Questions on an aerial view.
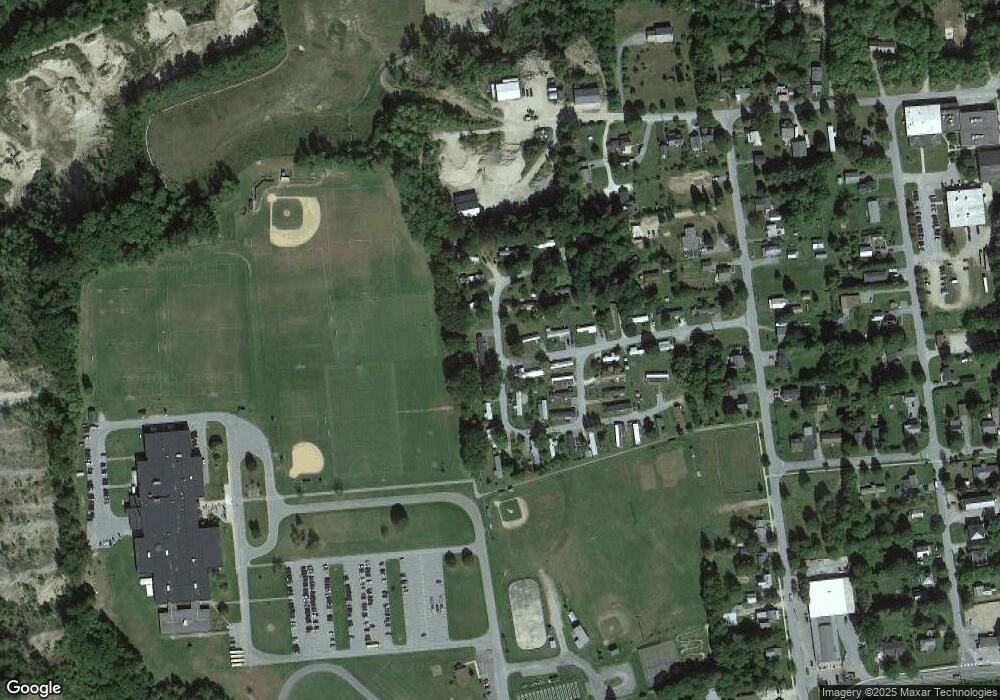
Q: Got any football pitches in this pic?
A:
Yes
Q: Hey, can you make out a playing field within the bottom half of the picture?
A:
Yes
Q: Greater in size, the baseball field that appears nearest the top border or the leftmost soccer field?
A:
the soccer field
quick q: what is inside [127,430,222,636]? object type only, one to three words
building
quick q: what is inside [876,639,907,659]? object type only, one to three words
house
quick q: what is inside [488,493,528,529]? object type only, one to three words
baseball field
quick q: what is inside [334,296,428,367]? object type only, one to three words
soccer field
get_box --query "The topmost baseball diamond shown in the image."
[264,189,320,247]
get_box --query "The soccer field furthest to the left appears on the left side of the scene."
[95,288,164,397]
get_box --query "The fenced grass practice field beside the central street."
[716,426,769,493]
